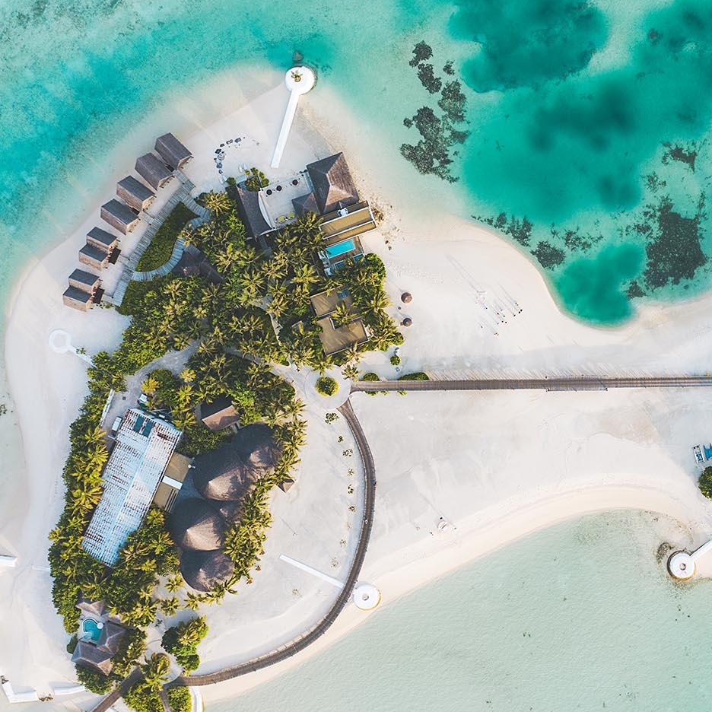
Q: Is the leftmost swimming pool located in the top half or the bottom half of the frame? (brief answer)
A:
bottom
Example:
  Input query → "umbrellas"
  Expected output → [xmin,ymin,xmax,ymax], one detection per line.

[403,317,412,327]
[402,291,412,303]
